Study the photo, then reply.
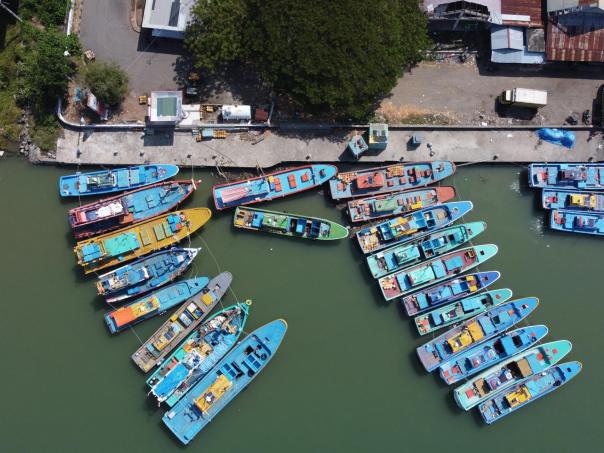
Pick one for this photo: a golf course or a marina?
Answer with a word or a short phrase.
marina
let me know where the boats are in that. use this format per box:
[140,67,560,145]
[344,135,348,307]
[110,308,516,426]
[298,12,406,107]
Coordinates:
[132,274,232,372]
[416,297,540,372]
[378,243,500,303]
[526,165,604,191]
[452,341,573,413]
[94,249,199,299]
[71,206,212,272]
[59,165,181,196]
[147,303,247,404]
[234,206,350,241]
[104,278,210,332]
[477,361,583,425]
[539,189,604,215]
[329,162,458,202]
[401,271,502,316]
[212,166,339,209]
[439,326,549,387]
[67,179,203,238]
[367,222,488,278]
[161,318,289,444]
[547,210,604,236]
[347,185,457,223]
[356,202,474,255]
[413,289,514,336]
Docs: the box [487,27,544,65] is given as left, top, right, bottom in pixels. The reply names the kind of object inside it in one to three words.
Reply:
shed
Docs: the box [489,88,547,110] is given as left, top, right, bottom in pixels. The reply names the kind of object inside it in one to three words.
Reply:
truck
